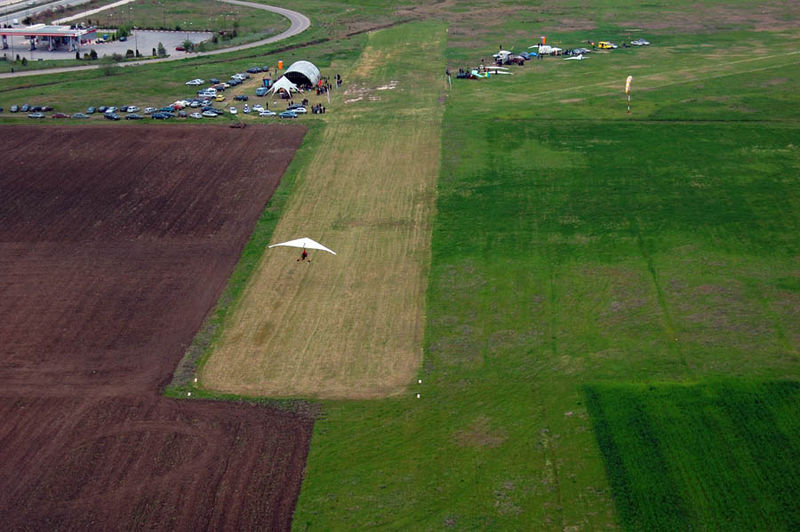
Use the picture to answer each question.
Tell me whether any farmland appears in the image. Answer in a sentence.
Yes, the picture does contain farmland.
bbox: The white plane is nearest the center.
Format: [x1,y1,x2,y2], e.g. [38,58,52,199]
[269,237,338,261]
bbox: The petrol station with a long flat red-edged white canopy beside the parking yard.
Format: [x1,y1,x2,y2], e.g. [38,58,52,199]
[0,23,101,52]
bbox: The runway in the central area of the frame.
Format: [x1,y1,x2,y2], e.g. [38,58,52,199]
[191,20,448,400]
